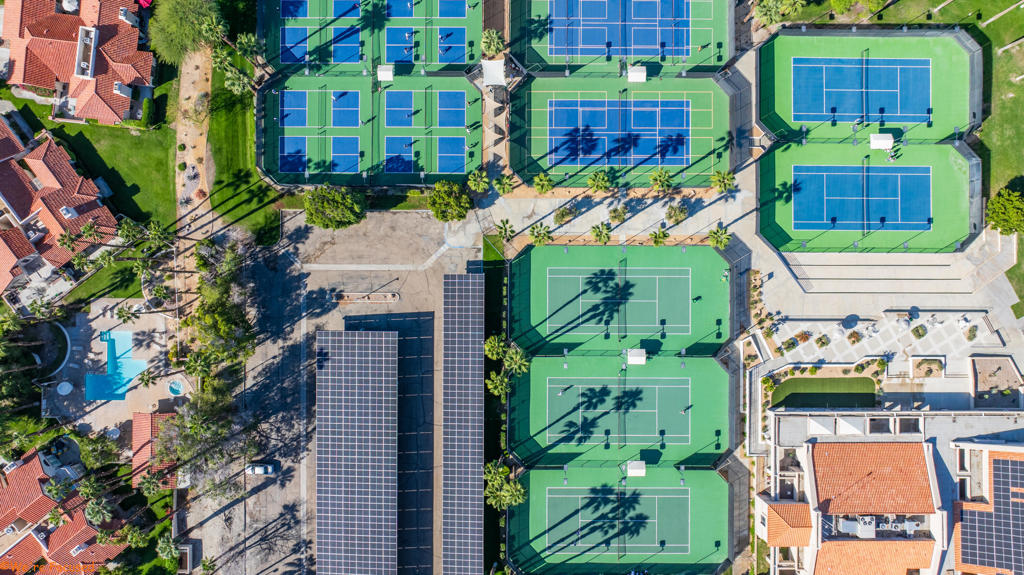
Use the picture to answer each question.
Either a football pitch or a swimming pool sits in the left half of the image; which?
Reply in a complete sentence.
What appears in the left half of the image is a swimming pool.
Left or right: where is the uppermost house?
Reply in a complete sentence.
The uppermost house sits on the left side.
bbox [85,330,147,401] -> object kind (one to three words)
swimming pool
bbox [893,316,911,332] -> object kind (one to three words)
umbrella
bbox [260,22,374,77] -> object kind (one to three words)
sports court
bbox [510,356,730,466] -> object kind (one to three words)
tennis court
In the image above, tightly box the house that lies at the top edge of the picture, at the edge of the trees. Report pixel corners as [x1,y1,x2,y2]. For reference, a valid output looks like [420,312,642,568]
[6,0,157,124]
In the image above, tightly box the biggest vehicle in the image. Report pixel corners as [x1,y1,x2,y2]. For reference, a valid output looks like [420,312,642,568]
[243,464,273,478]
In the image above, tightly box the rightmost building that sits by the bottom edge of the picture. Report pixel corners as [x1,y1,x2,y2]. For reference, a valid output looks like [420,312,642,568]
[757,402,1024,575]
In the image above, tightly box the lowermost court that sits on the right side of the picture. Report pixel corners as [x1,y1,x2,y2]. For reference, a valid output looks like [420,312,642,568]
[510,466,730,575]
